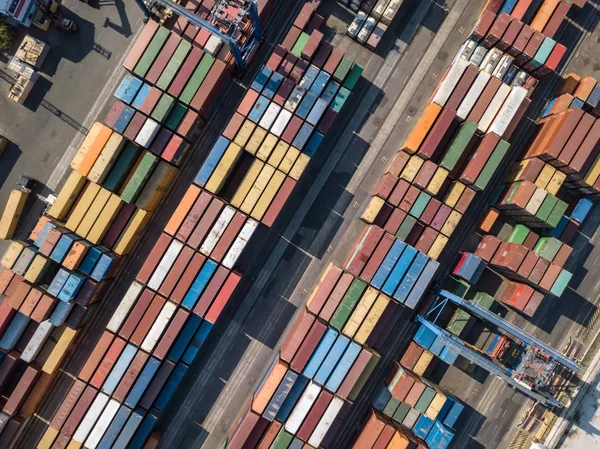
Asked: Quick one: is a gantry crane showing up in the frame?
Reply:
Yes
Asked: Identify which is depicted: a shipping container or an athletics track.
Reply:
shipping container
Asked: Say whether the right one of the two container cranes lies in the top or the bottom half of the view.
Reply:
bottom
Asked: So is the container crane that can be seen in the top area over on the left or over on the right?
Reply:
left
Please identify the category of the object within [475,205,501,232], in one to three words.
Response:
shipping container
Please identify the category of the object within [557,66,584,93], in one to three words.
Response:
shipping container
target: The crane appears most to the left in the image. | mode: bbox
[138,0,267,74]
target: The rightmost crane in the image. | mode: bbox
[410,281,589,410]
